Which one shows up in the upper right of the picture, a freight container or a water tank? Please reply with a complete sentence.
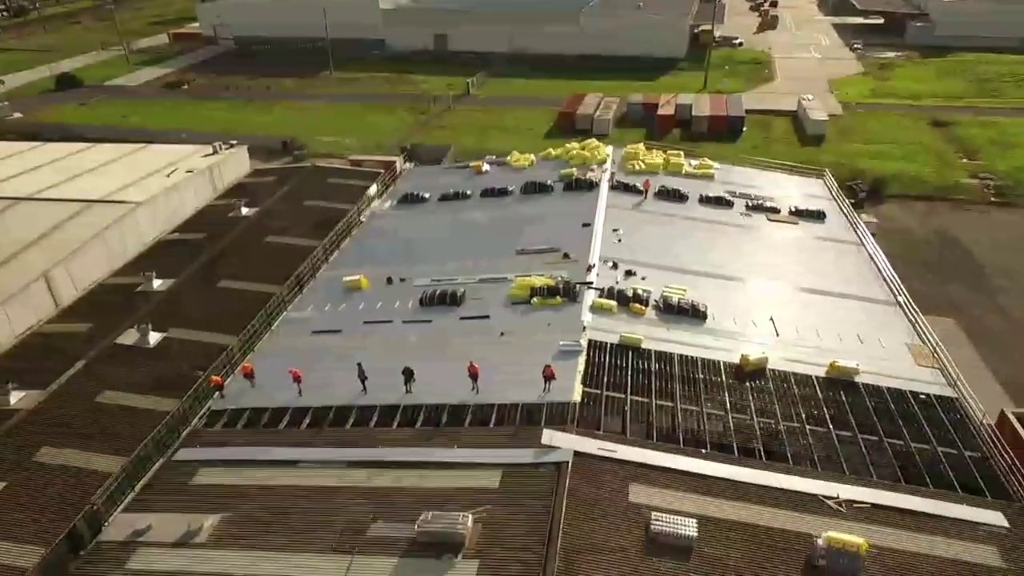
Visible in the upper right of the picture is a freight container.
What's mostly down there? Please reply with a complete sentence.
The bulk of the photo consists of buildings.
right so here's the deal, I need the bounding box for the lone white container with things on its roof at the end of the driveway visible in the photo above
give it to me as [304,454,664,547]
[792,94,829,137]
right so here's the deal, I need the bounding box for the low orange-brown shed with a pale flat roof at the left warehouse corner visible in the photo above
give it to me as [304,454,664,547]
[170,24,212,47]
